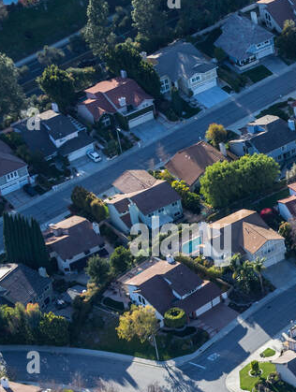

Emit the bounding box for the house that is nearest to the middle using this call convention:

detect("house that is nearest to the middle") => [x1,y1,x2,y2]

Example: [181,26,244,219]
[99,179,188,238]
